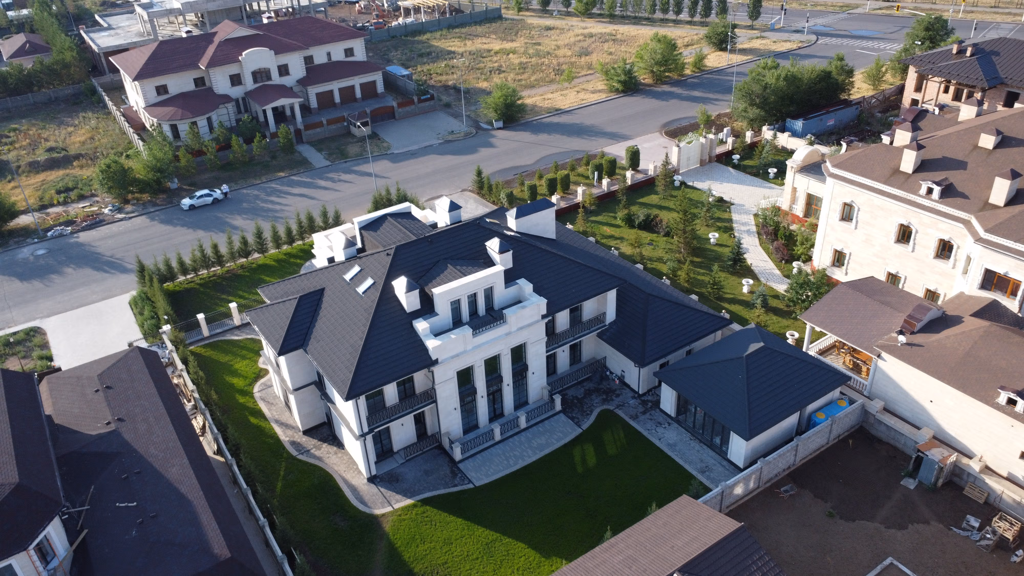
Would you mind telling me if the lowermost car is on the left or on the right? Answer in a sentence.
The lowermost car sits on the left side.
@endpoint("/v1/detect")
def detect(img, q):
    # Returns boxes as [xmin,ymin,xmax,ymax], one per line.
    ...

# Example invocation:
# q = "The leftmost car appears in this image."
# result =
[179,188,222,209]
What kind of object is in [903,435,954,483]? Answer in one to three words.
shed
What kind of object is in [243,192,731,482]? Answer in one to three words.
house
